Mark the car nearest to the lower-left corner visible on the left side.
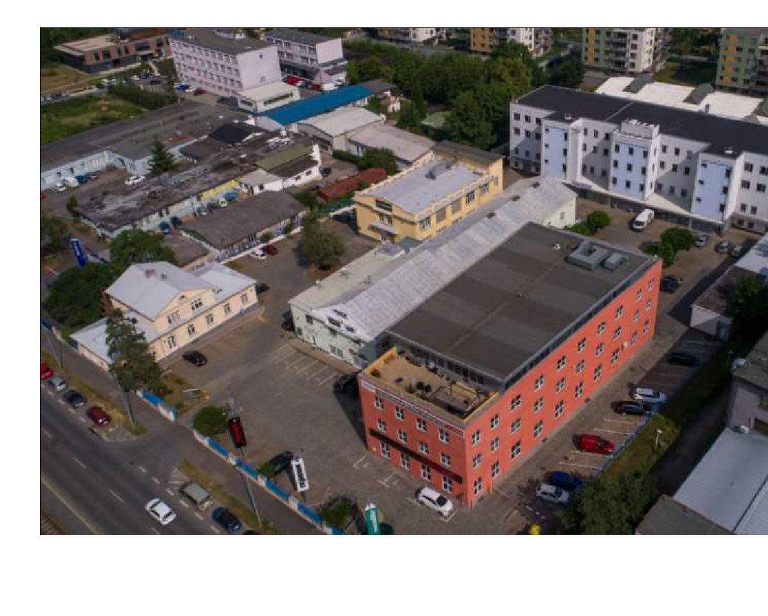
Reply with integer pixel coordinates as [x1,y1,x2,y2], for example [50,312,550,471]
[138,494,175,524]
